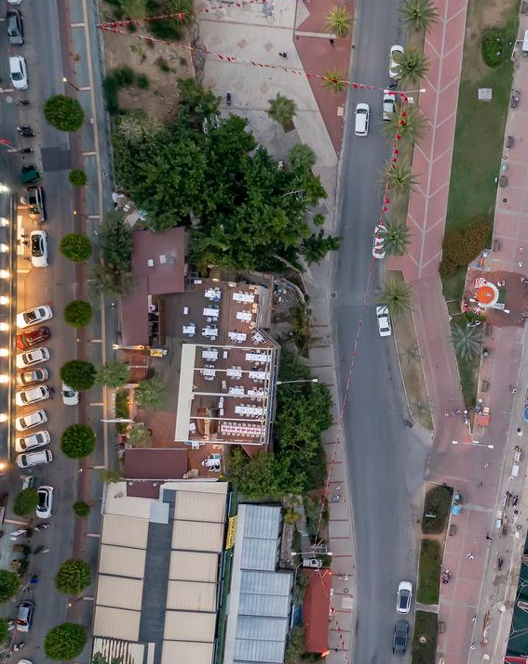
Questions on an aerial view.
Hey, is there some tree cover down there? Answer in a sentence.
Yes, tree cover can be seen from above here.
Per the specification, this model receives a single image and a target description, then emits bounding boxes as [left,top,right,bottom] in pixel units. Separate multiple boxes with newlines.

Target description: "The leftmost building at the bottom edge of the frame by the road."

[92,479,235,664]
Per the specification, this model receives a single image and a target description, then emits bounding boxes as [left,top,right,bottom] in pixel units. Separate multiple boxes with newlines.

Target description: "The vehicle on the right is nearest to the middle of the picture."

[375,303,392,338]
